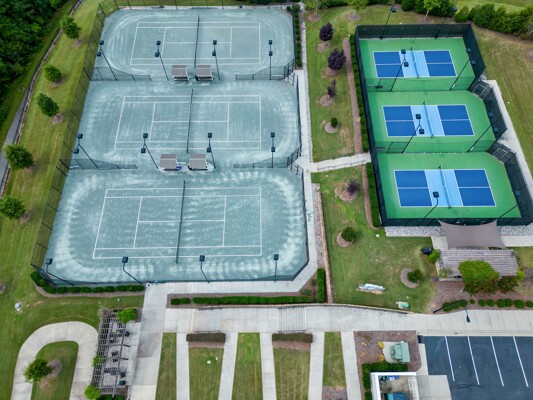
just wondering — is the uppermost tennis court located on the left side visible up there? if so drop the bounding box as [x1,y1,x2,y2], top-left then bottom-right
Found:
[91,7,297,80]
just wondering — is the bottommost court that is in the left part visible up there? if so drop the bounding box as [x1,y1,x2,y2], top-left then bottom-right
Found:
[43,166,310,285]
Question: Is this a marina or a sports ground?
sports ground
